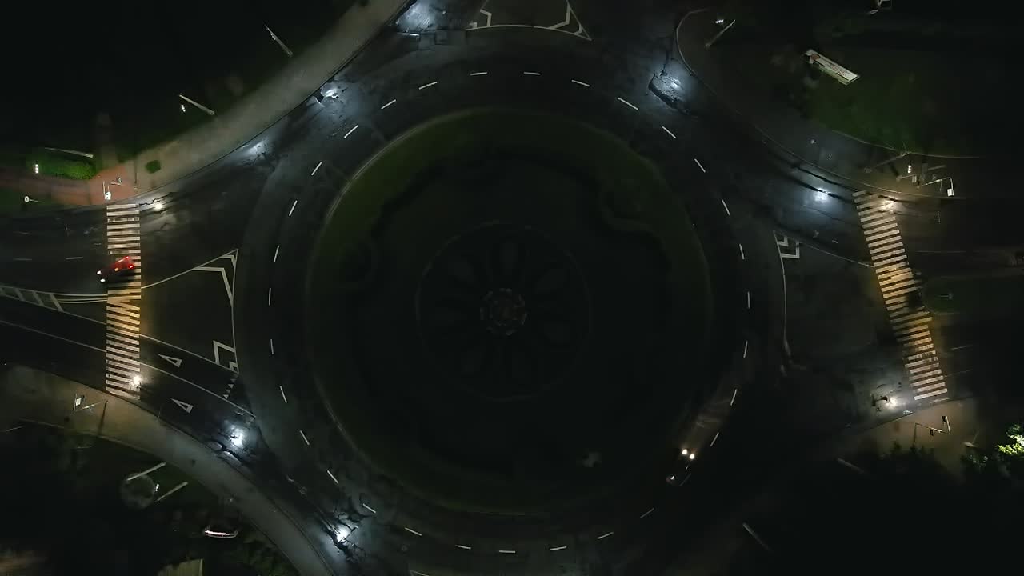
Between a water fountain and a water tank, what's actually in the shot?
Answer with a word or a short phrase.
water fountain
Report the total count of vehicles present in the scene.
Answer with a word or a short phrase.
2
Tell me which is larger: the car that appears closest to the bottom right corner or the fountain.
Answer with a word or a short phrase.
the fountain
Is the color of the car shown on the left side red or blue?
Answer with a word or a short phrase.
red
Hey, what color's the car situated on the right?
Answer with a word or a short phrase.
black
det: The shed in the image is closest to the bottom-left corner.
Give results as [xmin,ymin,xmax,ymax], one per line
[159,548,210,576]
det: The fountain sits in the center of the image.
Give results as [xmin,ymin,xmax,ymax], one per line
[480,288,526,334]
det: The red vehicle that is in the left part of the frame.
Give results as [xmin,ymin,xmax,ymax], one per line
[98,255,134,282]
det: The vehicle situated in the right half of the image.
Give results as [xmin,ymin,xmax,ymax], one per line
[667,450,694,486]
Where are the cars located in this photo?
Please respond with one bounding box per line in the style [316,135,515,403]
[98,255,134,282]
[667,450,694,486]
